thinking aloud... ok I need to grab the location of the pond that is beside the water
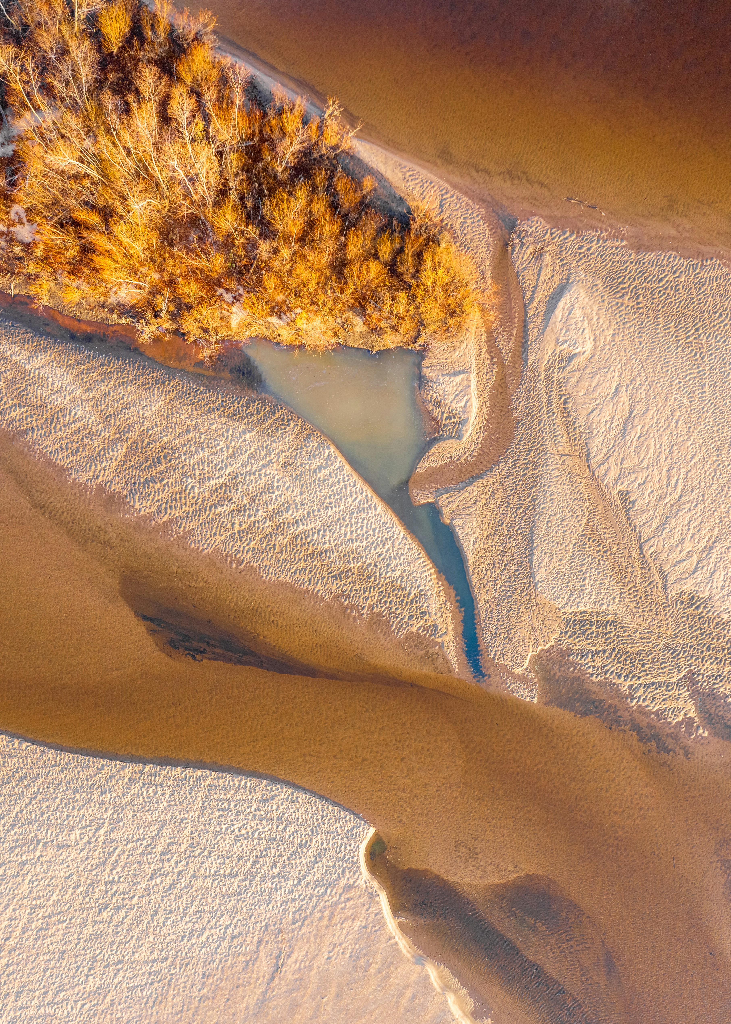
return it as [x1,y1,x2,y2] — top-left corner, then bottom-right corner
[254,342,486,678]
